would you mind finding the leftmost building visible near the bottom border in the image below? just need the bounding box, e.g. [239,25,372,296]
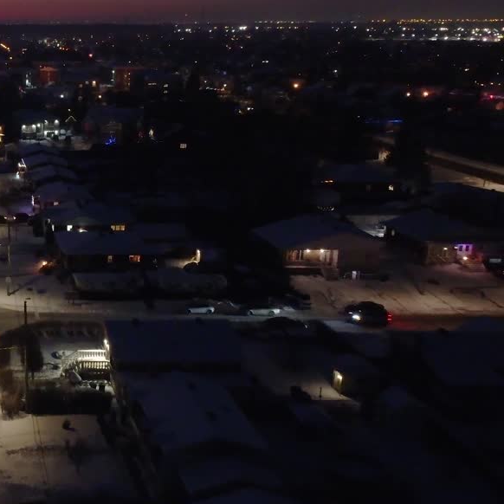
[122,385,295,496]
